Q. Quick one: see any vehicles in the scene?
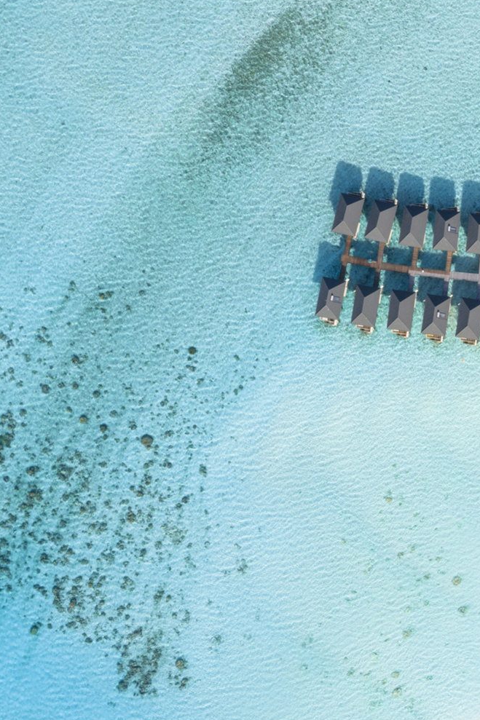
No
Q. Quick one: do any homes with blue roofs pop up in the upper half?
No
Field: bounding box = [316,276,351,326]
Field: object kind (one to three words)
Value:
house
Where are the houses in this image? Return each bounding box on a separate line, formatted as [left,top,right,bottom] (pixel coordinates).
[316,276,351,326]
[351,284,384,333]
[466,209,480,254]
[365,196,403,245]
[388,289,420,338]
[433,204,463,253]
[456,298,480,346]
[332,190,370,239]
[421,293,454,341]
[399,200,432,249]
